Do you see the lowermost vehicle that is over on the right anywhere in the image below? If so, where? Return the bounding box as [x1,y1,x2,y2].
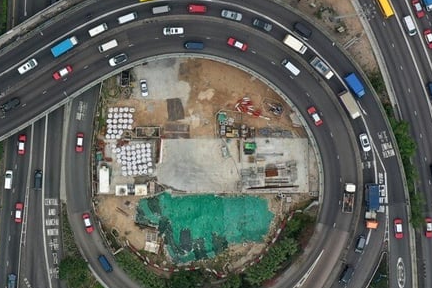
[339,263,356,284]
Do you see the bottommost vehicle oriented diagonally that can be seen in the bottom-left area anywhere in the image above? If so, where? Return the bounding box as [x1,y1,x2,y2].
[97,253,113,273]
